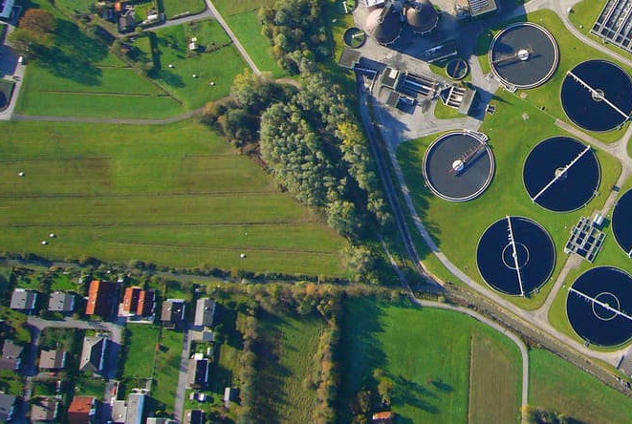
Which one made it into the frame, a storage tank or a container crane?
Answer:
storage tank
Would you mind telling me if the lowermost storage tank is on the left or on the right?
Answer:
right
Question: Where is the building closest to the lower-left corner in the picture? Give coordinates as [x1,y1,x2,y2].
[0,393,19,423]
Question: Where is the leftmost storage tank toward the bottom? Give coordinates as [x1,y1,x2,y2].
[476,215,556,299]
